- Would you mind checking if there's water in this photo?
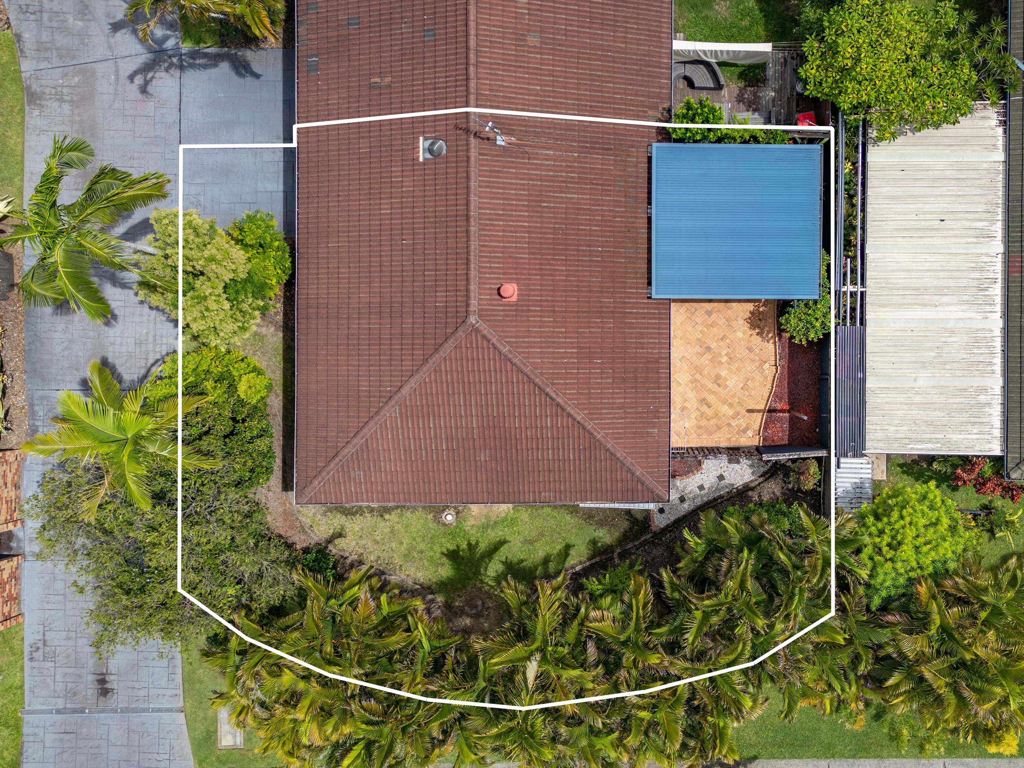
No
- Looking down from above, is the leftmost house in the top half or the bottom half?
top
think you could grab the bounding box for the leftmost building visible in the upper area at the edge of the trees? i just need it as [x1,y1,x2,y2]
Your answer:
[295,0,672,504]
